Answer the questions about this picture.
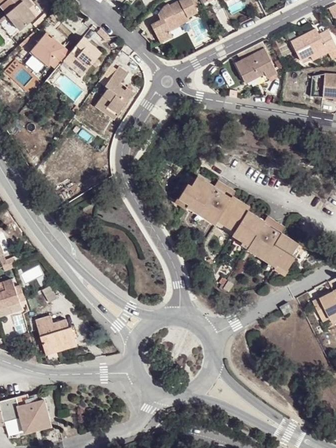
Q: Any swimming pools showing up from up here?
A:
Yes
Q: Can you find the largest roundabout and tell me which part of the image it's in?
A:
bottom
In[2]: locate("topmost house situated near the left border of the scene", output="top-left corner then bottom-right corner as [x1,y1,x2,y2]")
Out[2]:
[0,0,46,30]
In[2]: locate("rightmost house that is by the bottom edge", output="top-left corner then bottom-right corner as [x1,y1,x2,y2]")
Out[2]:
[16,396,52,437]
